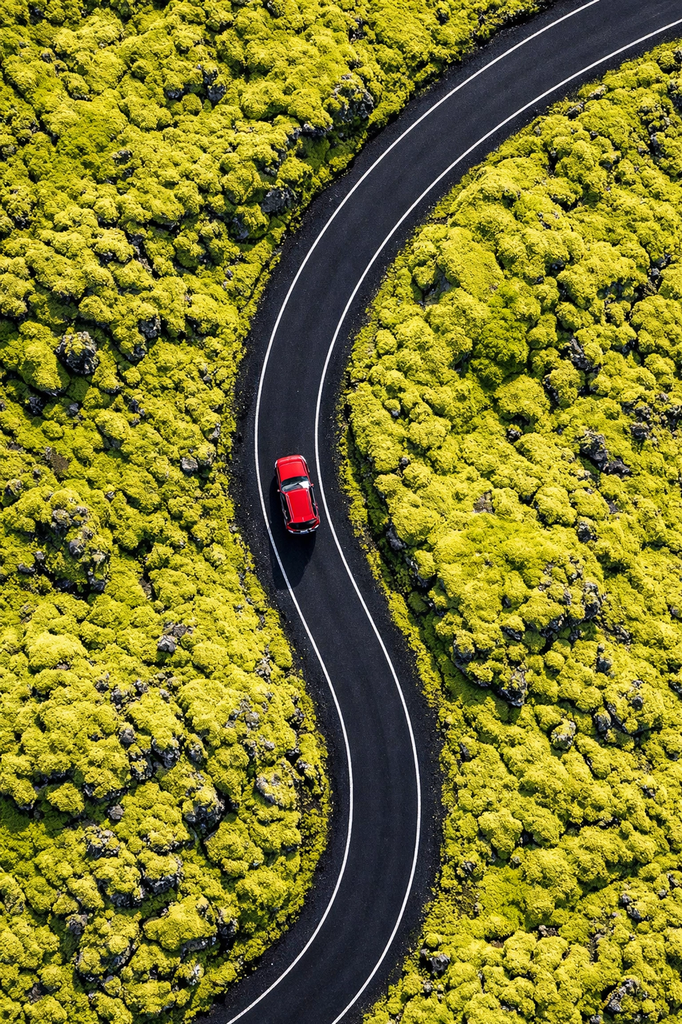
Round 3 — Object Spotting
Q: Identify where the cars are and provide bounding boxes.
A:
[275,456,319,536]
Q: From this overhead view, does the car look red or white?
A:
red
